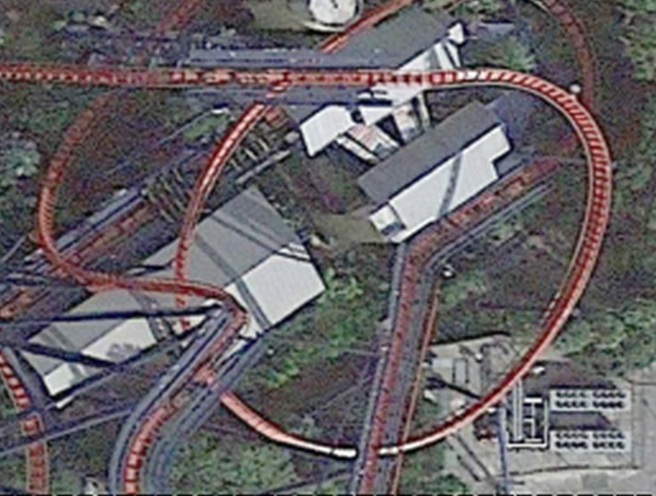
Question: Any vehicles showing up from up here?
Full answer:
No, there is no vehicle in the image.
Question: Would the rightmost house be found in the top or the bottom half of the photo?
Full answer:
The rightmost house sits in the bottom half of the picture.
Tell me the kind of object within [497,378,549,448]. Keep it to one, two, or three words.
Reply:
house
